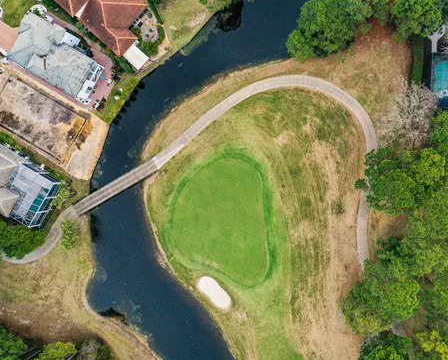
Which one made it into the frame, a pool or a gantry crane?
pool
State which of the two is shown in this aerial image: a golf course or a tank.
golf course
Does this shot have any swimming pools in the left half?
Yes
